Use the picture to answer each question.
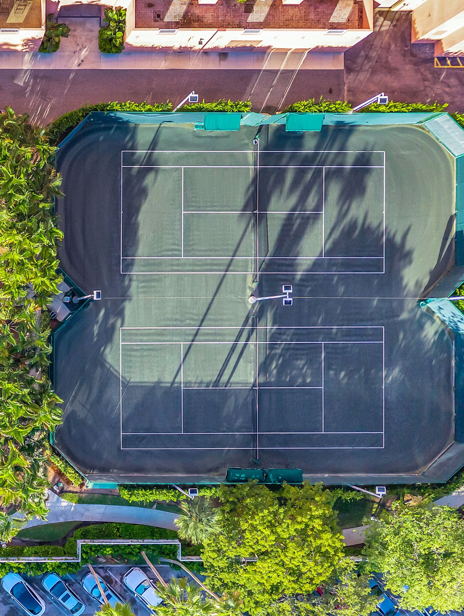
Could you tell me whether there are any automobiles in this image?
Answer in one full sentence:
Yes, the image includes an automobile.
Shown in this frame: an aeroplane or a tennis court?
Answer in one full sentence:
I can see a tennis court in this picture.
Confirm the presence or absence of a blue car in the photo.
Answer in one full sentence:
Yes, a blue car appears in the view.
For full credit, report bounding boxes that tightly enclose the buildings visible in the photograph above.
[120,0,374,51]
[0,0,45,50]
[412,0,464,58]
